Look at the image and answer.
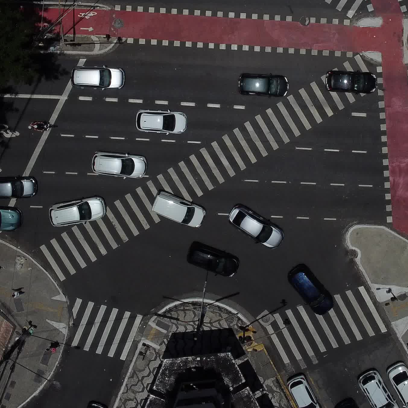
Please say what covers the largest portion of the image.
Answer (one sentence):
The bulk of the photo consists of paved ground.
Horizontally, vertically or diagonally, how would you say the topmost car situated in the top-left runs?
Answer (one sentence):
From this overhead view, the topmost car situated in the top-left appears to run horizontally.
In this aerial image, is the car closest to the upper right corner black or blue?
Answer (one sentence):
The car closest to the upper right corner is black.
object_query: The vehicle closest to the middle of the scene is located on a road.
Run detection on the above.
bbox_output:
[151,191,208,228]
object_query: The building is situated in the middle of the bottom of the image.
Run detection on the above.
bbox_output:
[142,329,274,408]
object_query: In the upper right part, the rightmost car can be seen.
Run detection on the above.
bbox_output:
[324,68,376,96]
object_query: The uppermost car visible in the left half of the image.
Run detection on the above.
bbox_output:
[71,64,125,92]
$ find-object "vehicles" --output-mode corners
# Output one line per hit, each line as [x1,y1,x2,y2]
[288,261,333,315]
[0,173,40,201]
[283,370,322,408]
[49,196,108,226]
[226,203,286,248]
[361,365,401,408]
[151,191,208,228]
[186,241,241,277]
[92,151,148,181]
[71,64,125,92]
[44,120,59,132]
[387,358,408,408]
[324,68,376,96]
[0,205,25,233]
[238,71,288,98]
[136,108,188,136]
